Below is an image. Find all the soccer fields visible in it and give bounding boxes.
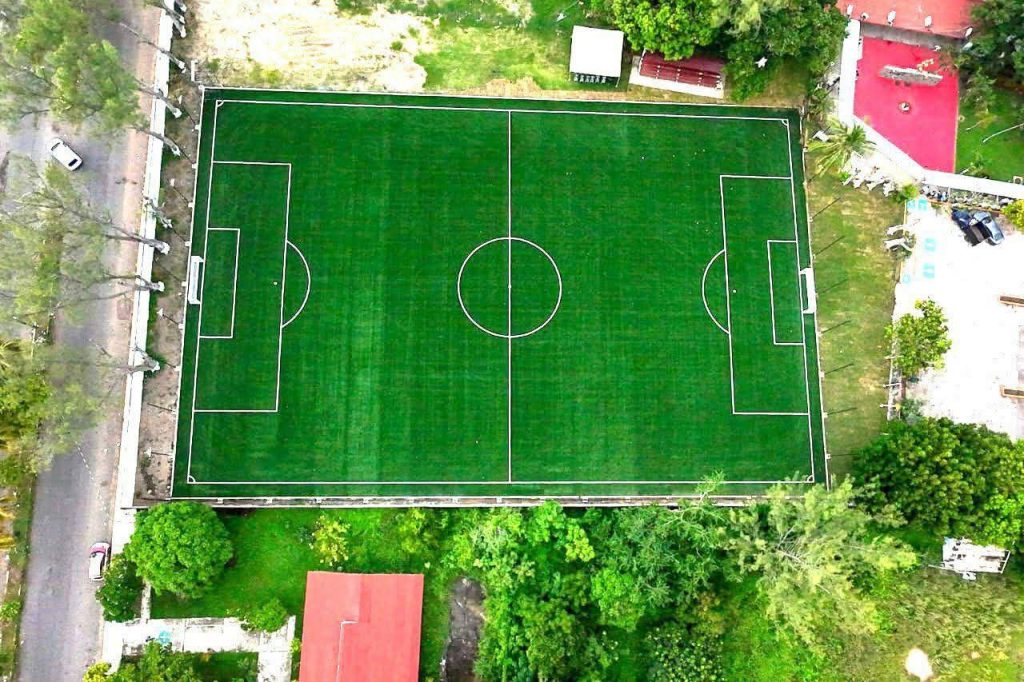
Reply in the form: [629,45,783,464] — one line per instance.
[169,86,830,498]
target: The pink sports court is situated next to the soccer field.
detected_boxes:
[855,35,968,174]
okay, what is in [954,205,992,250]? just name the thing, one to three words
truck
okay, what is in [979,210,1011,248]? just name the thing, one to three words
car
